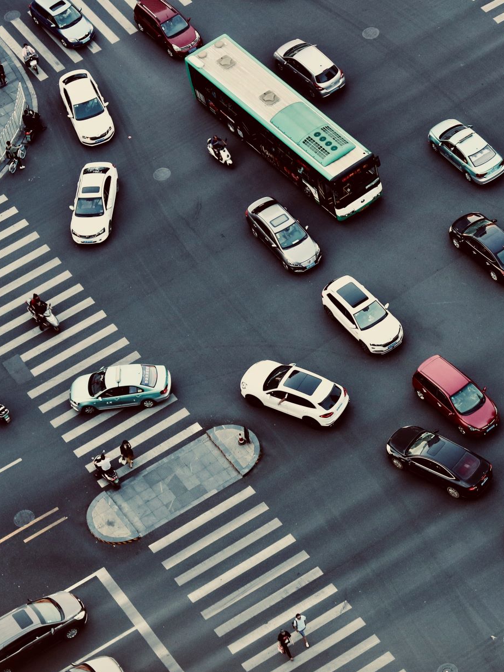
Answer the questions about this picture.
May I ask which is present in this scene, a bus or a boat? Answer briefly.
bus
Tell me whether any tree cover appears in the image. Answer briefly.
No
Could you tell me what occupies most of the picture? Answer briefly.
paved ground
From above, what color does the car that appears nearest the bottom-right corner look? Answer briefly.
black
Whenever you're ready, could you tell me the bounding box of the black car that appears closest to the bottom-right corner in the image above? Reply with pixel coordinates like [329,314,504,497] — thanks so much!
[383,426,496,499]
